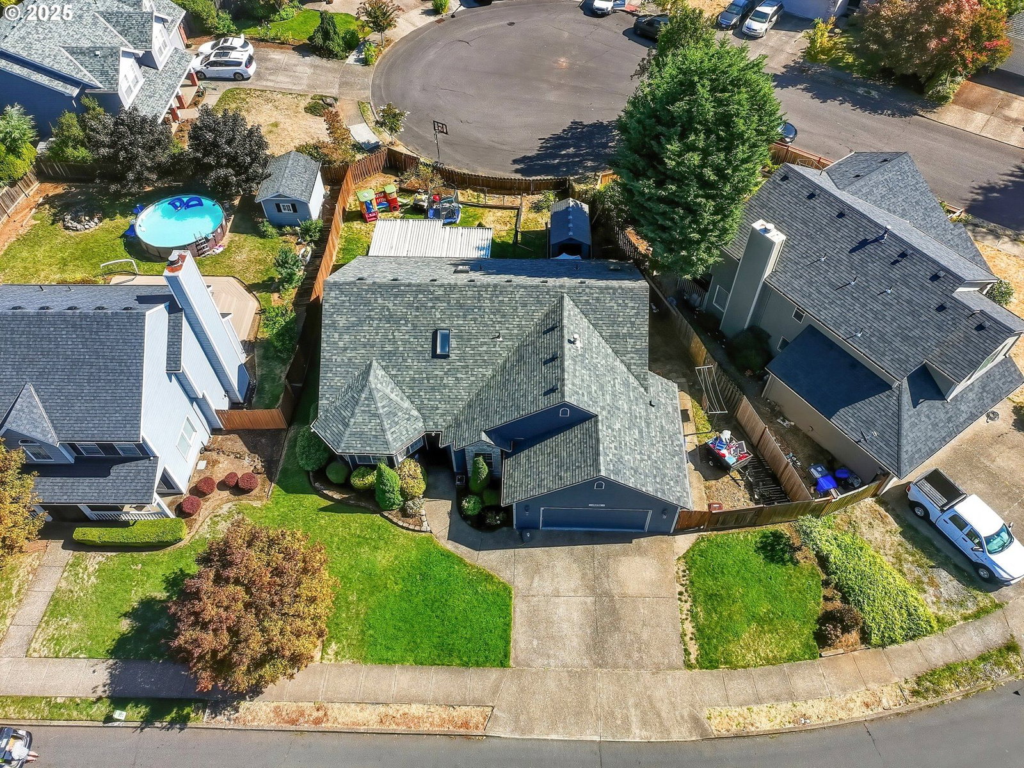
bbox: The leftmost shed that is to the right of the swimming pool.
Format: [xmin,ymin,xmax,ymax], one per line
[256,153,324,225]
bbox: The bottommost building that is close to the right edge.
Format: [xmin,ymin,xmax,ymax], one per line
[702,151,1024,487]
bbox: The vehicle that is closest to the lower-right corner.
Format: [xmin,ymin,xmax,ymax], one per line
[907,470,1024,590]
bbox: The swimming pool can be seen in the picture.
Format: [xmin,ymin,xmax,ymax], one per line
[135,193,231,260]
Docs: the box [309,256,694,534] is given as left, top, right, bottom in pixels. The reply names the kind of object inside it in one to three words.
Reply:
house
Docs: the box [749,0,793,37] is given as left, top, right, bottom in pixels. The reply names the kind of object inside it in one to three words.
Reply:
car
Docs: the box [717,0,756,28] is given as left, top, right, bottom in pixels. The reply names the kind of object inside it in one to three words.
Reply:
car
